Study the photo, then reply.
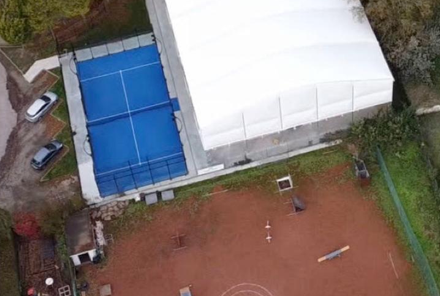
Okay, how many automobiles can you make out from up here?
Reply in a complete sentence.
The photo contains 2 automobiles.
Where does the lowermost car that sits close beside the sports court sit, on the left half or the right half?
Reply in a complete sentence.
The lowermost car that sits close beside the sports court appears in the left half of the scene.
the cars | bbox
[23,137,64,170]
[21,87,59,120]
